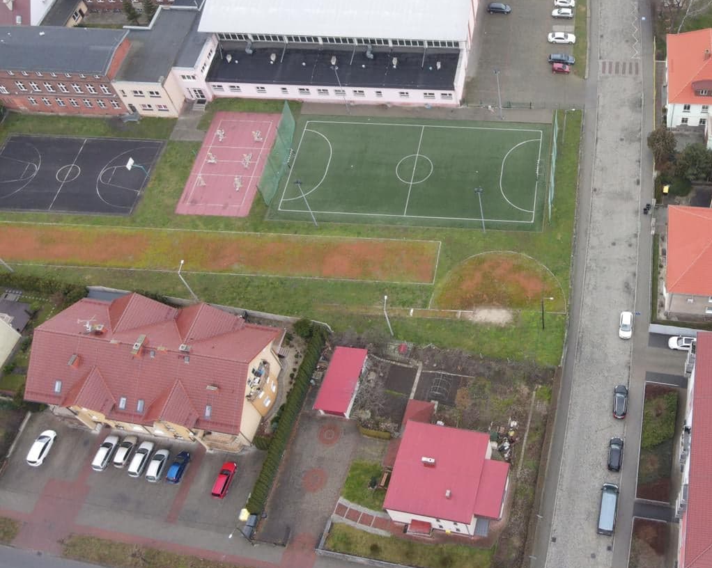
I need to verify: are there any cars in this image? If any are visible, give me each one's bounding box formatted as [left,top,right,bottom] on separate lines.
[606,434,625,472]
[205,460,242,501]
[552,7,574,18]
[23,432,59,466]
[612,383,629,418]
[122,441,159,479]
[619,310,634,339]
[85,434,124,472]
[139,448,174,483]
[554,0,575,7]
[548,52,574,64]
[161,450,195,485]
[551,62,574,74]
[549,32,575,44]
[668,334,692,351]
[107,434,142,469]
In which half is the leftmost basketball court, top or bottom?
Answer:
top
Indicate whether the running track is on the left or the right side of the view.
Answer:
left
